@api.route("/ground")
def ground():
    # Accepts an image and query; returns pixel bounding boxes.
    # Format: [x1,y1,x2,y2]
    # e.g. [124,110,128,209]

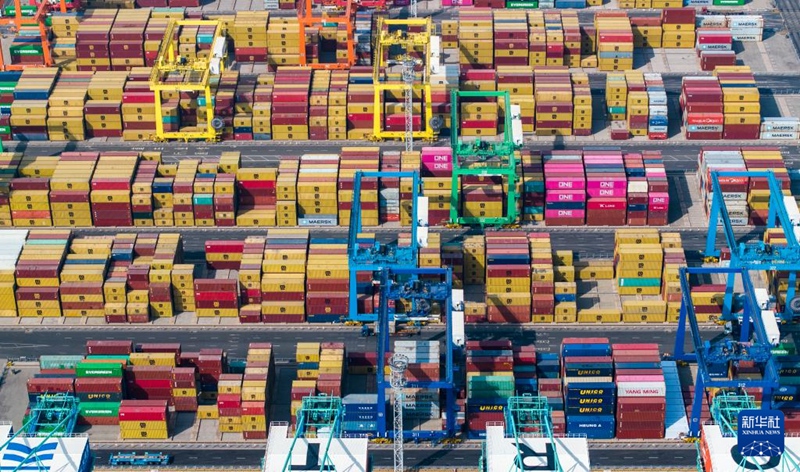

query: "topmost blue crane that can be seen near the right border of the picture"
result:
[701,172,800,325]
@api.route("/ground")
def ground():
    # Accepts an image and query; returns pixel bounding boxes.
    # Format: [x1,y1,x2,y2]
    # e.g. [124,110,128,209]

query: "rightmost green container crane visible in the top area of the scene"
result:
[444,93,524,228]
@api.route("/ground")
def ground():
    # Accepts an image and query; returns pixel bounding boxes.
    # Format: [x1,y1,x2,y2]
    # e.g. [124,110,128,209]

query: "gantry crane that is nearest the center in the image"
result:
[341,172,430,325]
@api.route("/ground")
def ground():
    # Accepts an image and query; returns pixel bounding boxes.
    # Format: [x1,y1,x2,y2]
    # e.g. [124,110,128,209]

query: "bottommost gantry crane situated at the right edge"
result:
[691,392,800,472]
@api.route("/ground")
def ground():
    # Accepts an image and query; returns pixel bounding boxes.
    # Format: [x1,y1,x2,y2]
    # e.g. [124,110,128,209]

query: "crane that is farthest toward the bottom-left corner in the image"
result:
[0,392,93,472]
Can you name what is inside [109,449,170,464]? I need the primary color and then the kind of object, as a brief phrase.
blue vehicle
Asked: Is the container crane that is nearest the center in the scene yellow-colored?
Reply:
No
